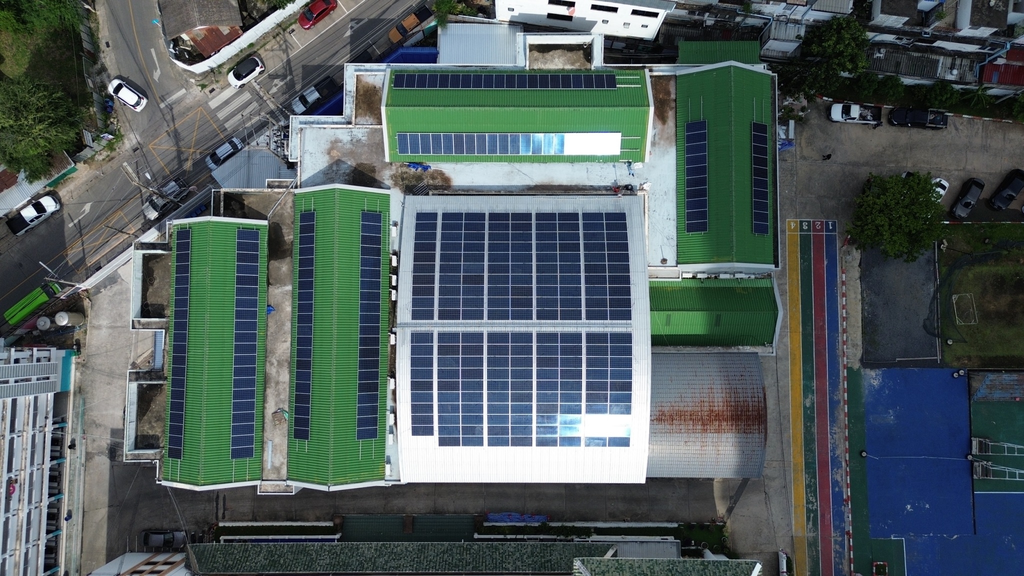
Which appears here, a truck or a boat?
truck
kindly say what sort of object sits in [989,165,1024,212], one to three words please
car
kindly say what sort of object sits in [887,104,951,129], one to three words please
truck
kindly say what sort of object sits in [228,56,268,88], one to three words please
car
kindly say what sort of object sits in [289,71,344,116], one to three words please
truck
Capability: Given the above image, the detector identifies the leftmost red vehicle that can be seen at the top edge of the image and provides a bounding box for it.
[298,0,341,32]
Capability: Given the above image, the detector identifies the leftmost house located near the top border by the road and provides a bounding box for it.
[163,0,248,64]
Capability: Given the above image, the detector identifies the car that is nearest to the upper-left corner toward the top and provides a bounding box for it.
[107,80,150,113]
